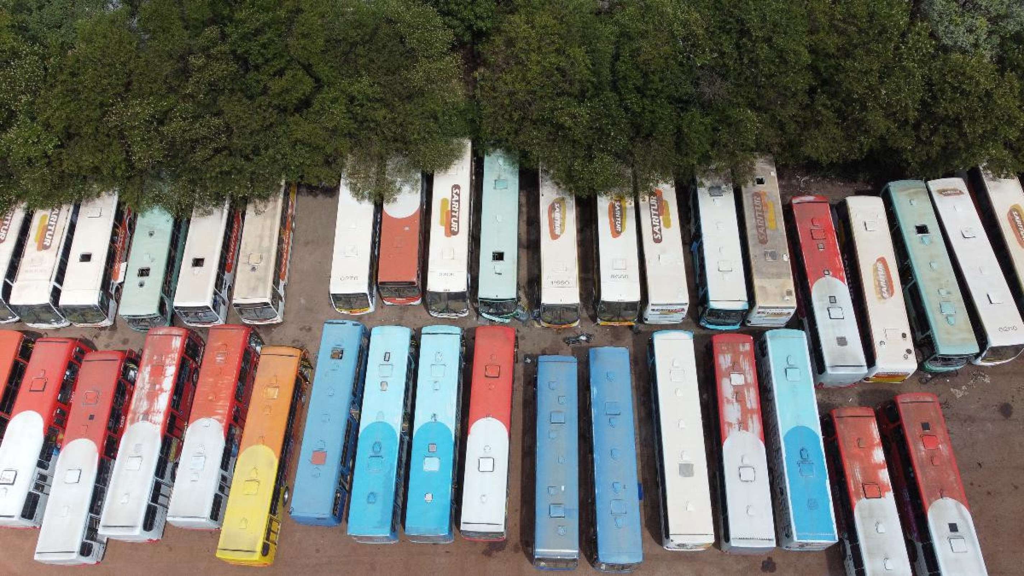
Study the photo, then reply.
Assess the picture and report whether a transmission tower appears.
No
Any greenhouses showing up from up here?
No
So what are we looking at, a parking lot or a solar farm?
parking lot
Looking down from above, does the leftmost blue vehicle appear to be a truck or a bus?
bus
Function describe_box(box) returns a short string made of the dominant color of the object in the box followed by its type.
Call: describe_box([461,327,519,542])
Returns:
white bus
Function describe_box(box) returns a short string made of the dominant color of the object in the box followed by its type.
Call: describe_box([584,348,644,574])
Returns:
blue bus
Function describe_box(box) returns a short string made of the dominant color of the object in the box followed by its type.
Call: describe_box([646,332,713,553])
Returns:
white bus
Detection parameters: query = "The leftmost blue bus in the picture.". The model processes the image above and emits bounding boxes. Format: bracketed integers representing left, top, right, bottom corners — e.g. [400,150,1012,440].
[290,323,371,529]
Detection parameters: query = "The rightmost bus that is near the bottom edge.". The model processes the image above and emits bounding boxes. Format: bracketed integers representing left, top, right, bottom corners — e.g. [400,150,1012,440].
[876,395,986,576]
